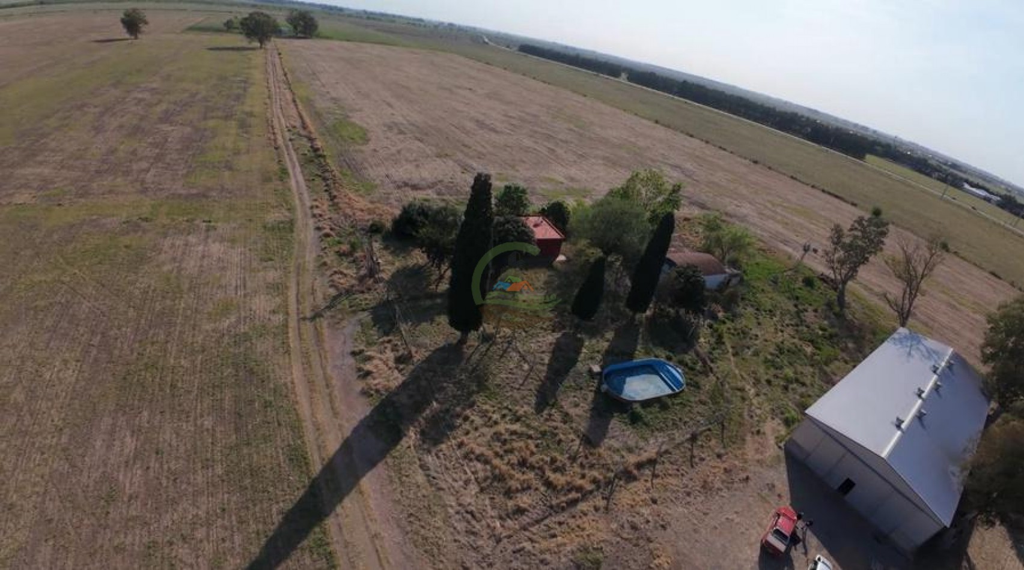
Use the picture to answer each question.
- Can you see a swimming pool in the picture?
Yes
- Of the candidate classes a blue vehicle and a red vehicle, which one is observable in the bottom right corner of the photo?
red vehicle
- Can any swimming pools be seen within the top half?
No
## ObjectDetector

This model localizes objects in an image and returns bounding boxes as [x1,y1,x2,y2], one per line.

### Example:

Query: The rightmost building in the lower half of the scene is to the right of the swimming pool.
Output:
[783,329,1000,556]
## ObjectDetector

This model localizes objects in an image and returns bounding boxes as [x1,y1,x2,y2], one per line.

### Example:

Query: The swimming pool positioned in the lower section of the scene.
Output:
[601,358,686,406]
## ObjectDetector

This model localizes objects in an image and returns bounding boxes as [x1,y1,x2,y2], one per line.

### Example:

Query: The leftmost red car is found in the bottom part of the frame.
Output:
[760,506,808,555]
